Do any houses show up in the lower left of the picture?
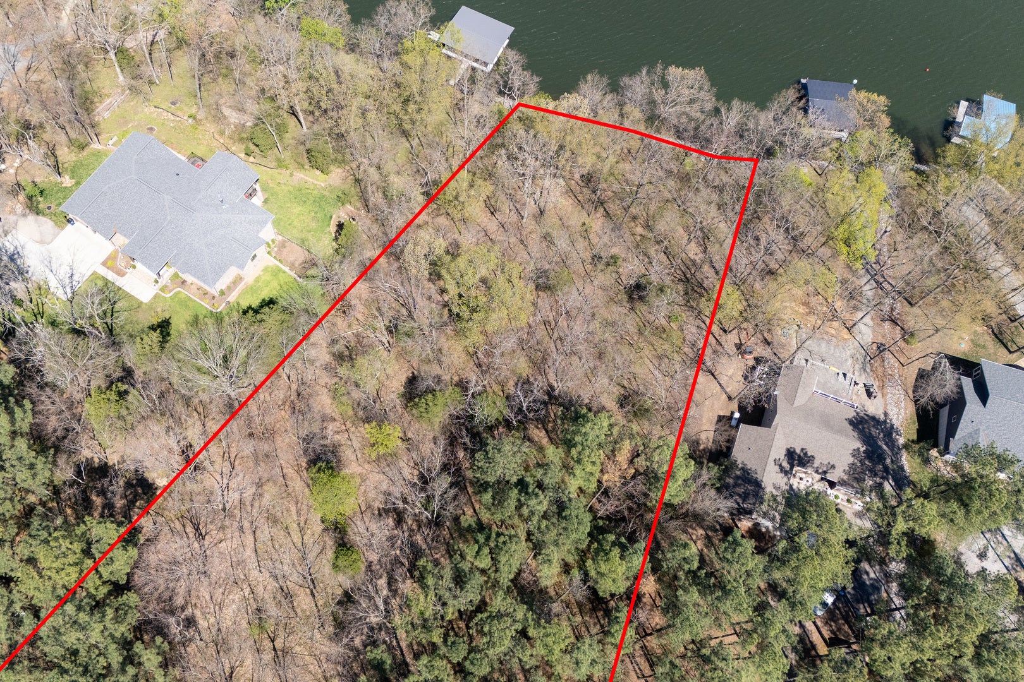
No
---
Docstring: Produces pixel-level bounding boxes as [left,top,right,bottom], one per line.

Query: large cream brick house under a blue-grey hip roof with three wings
[59,132,276,289]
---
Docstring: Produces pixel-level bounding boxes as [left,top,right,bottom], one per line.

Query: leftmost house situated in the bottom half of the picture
[715,363,885,527]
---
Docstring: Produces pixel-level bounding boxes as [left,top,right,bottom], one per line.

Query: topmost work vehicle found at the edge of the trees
[741,337,757,363]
